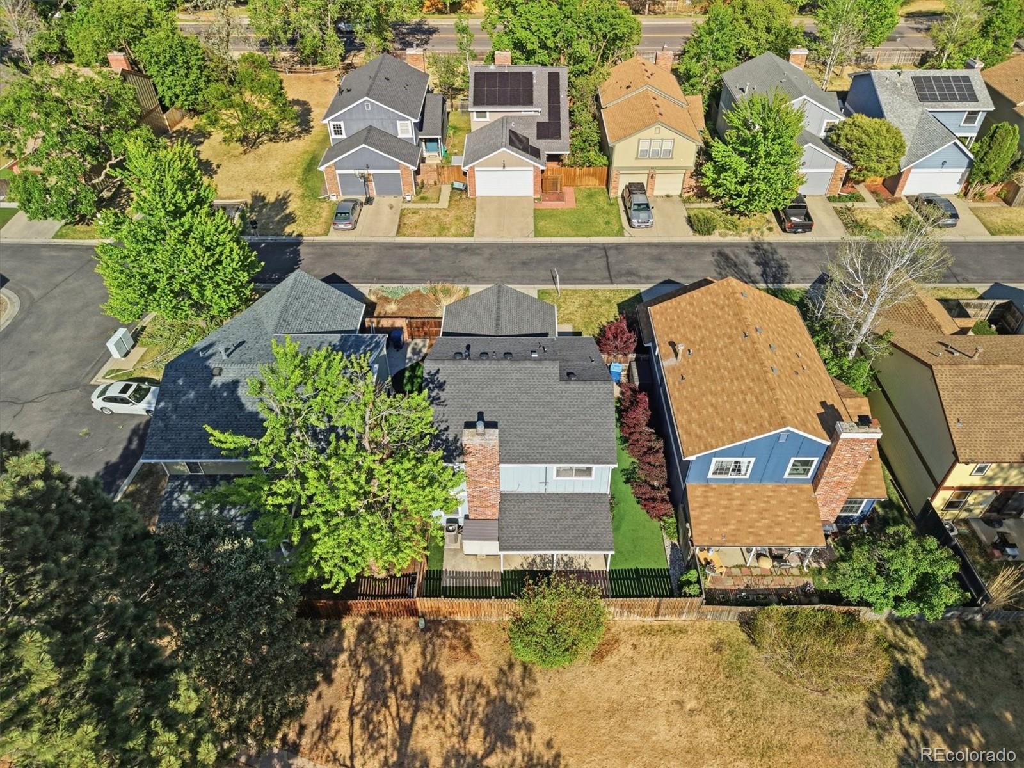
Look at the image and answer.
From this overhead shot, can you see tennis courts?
No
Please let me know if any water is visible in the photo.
No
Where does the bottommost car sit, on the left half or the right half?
left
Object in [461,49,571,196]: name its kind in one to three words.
house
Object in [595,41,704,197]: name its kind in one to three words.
house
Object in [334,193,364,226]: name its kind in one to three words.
car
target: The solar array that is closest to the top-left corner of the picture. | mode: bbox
[473,71,533,106]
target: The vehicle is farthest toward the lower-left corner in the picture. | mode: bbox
[86,379,159,415]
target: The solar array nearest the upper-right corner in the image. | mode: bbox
[912,75,978,102]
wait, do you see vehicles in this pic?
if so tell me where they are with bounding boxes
[334,193,364,226]
[625,184,655,224]
[86,379,159,415]
[772,188,815,227]
[916,188,963,223]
